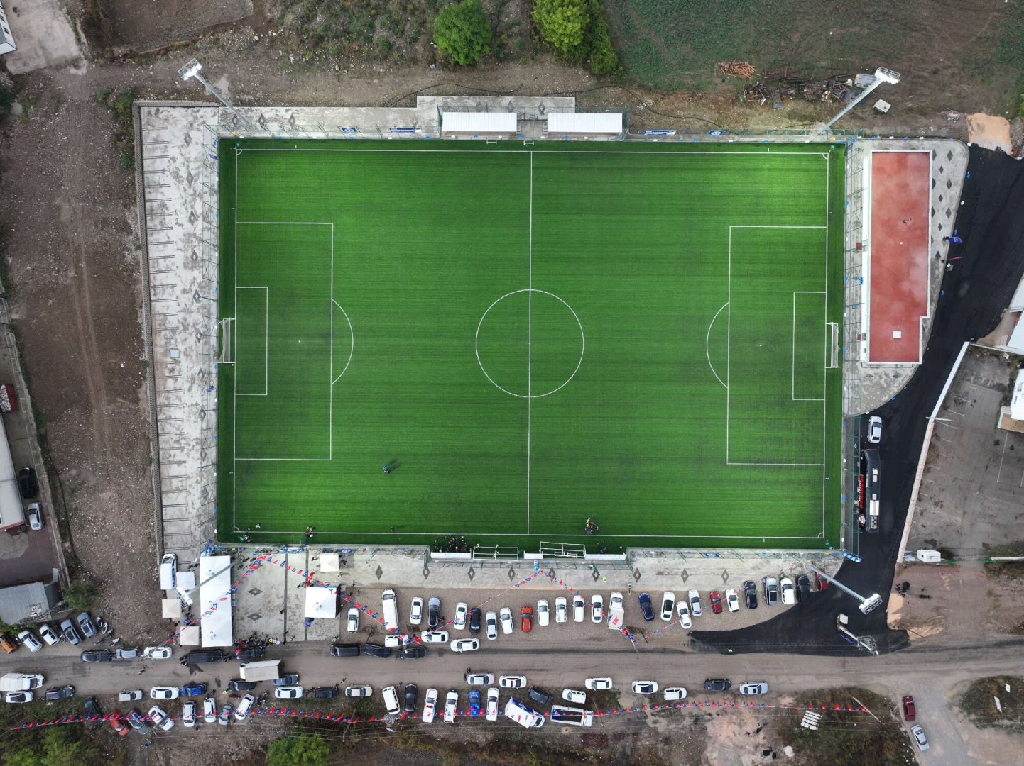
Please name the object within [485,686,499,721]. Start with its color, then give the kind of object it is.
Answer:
white vehicle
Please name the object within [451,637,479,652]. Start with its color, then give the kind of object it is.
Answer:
white car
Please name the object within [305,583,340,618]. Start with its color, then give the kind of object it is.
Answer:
white tent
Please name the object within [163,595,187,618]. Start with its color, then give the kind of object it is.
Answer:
white tent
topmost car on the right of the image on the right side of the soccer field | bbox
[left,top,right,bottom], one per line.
[867,416,882,443]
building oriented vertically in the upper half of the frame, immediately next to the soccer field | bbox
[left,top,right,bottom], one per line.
[857,150,932,365]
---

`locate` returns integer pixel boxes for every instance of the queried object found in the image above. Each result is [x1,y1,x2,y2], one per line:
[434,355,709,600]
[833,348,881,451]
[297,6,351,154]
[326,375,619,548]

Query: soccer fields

[215,138,847,561]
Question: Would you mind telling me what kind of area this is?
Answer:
sports ground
